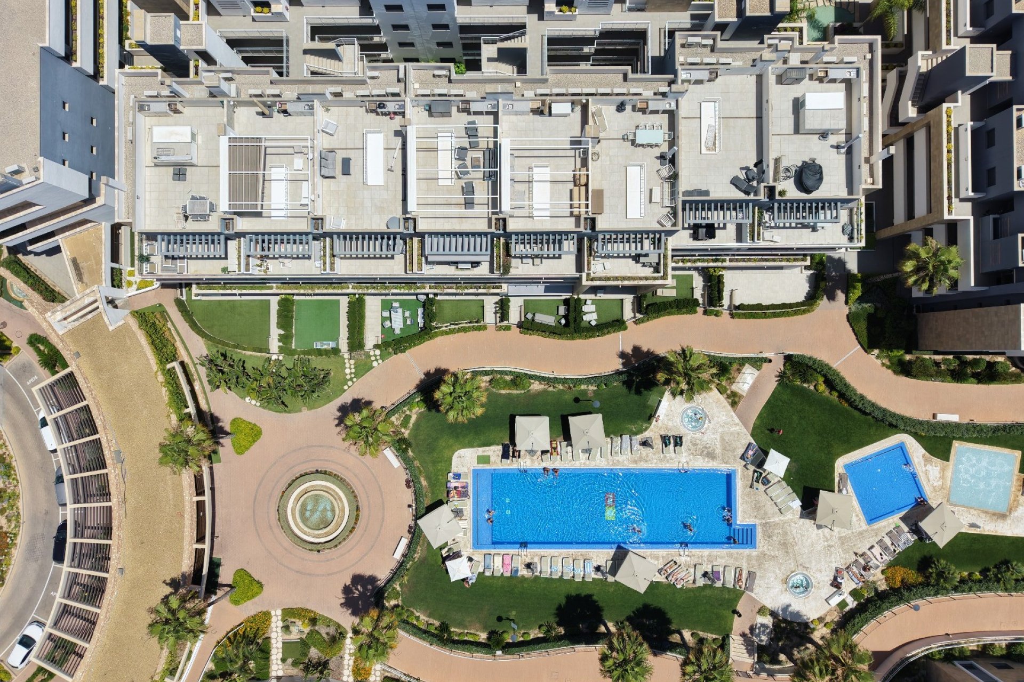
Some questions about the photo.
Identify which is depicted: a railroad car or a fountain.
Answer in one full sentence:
There is a fountain in the scene.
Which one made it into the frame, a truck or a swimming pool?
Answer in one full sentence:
Looking from above, you can make out a swimming pool.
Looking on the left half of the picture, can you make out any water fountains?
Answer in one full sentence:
Yes, looking on the left half of the picture, one can make out a water fountain.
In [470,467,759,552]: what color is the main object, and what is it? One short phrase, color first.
blue swimming pool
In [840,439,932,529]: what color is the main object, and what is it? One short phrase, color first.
blue swimming pool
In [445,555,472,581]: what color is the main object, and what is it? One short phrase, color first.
white umbrella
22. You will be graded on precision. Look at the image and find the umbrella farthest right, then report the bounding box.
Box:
[905,502,967,550]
